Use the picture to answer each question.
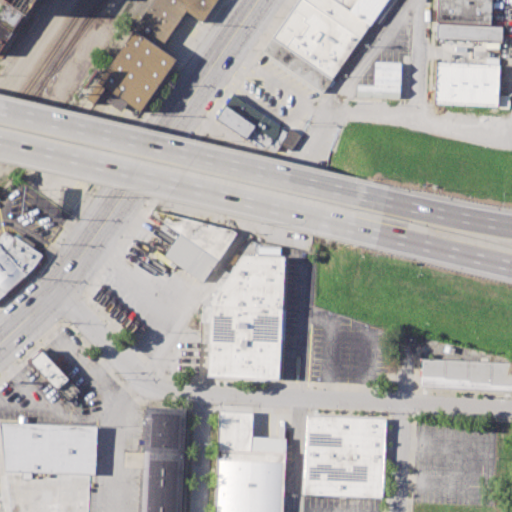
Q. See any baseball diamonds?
No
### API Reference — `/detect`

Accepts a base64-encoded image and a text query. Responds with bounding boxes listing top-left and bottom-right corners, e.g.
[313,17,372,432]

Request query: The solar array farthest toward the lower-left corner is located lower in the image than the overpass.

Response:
[214,318,234,341]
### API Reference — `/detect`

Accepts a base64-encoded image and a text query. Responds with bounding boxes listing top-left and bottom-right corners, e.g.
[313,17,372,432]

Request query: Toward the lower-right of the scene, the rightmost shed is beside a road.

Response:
[422,360,512,392]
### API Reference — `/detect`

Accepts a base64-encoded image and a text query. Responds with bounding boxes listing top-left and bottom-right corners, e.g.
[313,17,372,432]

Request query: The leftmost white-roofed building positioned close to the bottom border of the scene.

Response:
[1,424,98,512]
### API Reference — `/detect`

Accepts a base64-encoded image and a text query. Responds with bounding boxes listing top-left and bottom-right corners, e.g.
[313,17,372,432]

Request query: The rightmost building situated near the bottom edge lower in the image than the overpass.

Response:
[304,416,387,499]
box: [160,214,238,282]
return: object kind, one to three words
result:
building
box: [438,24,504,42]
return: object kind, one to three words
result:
shed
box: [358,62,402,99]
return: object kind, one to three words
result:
building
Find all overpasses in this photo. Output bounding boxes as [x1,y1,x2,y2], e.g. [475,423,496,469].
[0,95,512,284]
